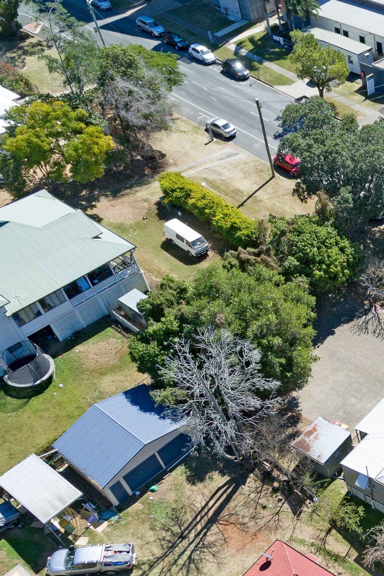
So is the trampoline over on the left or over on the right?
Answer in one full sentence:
The trampoline is on the left side of the image.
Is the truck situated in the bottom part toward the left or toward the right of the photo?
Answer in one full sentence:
You can find the truck situated in the bottom part on the left side of the picture.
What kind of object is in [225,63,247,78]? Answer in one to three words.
car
